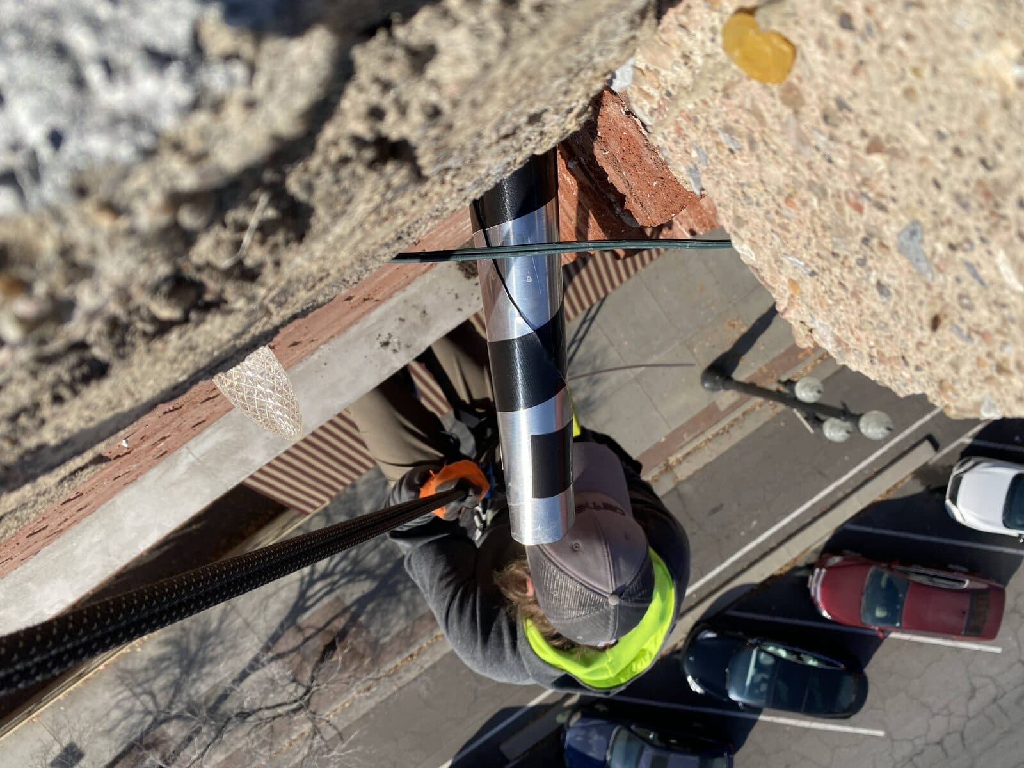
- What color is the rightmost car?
white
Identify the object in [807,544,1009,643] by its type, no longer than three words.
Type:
car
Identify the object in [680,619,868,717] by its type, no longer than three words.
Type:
car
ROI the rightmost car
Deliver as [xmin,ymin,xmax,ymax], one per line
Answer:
[940,466,1024,560]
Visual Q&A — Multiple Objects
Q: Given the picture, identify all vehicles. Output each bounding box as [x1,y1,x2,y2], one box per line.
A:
[680,619,868,717]
[559,705,735,768]
[807,544,1009,643]
[940,466,1024,560]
